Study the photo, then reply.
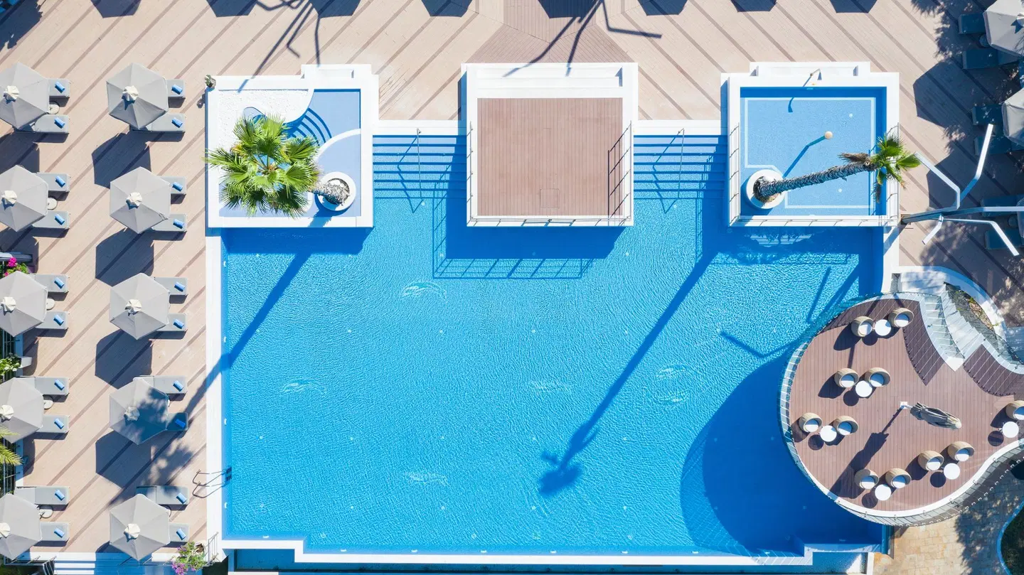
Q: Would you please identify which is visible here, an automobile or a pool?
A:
pool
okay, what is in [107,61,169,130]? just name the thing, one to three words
umbrella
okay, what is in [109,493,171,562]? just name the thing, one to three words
umbrella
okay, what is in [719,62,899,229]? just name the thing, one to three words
swimming pool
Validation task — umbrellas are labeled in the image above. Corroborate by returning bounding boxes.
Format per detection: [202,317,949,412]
[0,61,59,130]
[976,0,1024,58]
[0,270,57,338]
[0,376,54,445]
[0,492,52,561]
[108,376,170,445]
[992,90,1024,149]
[109,493,171,562]
[0,164,58,233]
[107,61,169,130]
[109,166,171,234]
[110,272,171,340]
